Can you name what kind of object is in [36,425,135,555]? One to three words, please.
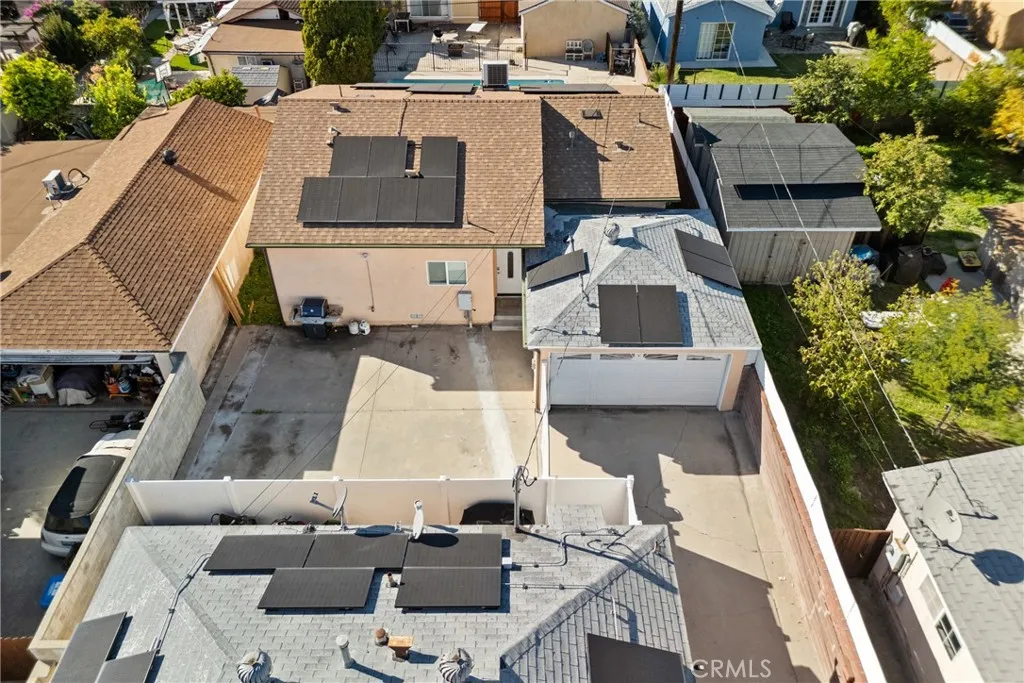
car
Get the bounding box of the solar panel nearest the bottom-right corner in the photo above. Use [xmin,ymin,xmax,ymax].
[588,639,688,683]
